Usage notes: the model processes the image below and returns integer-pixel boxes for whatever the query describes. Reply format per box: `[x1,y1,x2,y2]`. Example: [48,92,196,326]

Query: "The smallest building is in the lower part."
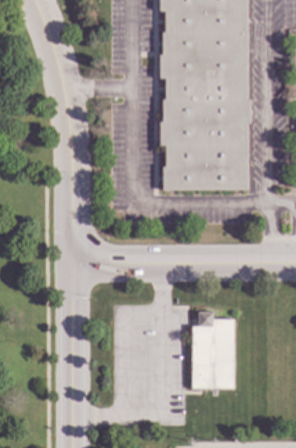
[192,310,236,397]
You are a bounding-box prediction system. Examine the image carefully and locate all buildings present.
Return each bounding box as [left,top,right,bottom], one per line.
[160,0,250,190]
[192,310,236,397]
